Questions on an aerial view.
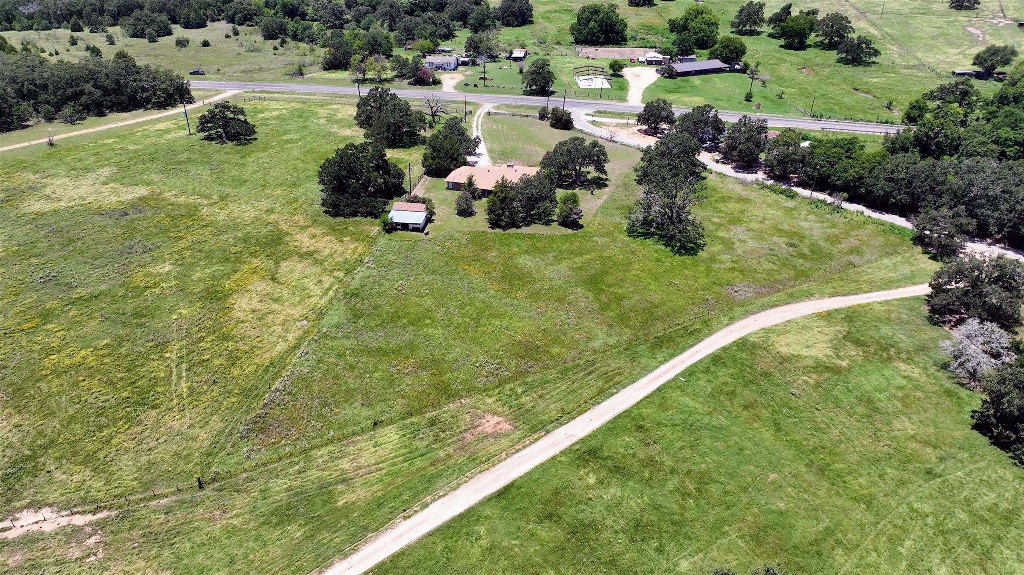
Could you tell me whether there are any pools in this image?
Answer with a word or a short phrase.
No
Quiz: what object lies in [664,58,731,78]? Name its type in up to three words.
house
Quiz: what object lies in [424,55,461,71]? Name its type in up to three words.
house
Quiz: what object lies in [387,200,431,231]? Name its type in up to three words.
shed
